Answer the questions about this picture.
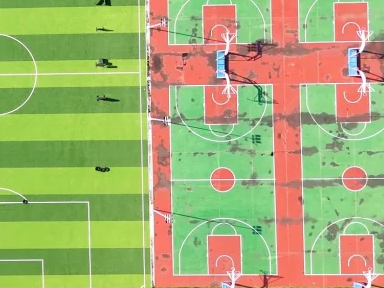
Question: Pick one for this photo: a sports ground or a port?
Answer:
sports ground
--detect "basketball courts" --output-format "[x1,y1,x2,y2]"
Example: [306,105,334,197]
[296,80,384,276]
[169,82,279,277]
[168,0,275,46]
[296,0,384,44]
